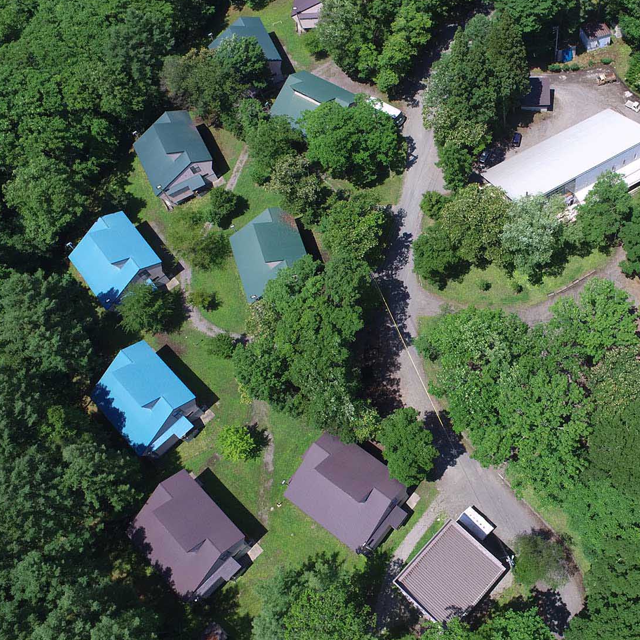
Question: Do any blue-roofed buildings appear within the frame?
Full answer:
Yes, a blue-roofed building is visible in the scene.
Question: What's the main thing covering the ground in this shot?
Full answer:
The largest share of the image is taken up by trees.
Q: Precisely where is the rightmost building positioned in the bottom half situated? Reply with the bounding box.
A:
[393,521,507,631]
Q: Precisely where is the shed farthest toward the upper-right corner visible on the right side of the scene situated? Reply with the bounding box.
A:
[583,23,611,53]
